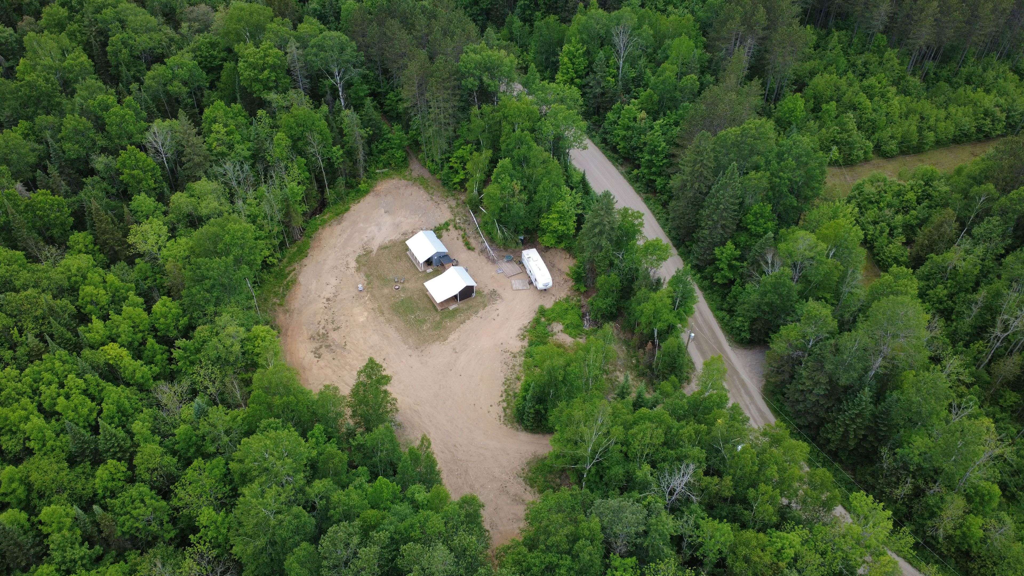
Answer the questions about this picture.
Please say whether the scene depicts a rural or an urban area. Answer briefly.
rural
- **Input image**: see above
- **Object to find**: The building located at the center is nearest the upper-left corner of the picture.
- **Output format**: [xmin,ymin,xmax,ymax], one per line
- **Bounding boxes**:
[405,230,448,271]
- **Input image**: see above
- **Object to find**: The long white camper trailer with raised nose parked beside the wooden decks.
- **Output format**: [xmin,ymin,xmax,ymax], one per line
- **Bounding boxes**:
[522,249,553,293]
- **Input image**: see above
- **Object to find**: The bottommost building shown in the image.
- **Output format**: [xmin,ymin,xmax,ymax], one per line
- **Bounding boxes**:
[423,266,477,310]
